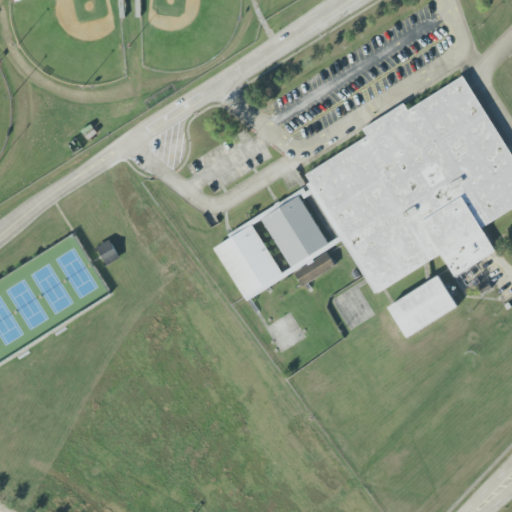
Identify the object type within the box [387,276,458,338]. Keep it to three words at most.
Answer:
building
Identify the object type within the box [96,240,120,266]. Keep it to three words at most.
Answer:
shed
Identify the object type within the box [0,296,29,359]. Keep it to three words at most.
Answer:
tennis court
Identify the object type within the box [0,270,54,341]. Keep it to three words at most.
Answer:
tennis court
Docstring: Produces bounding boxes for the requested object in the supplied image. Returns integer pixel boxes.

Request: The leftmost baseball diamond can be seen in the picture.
[56,0,114,40]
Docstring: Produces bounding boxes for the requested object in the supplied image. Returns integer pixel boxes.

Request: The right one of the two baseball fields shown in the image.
[148,0,200,30]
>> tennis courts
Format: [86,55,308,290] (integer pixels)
[18,254,78,326]
[43,236,109,310]
[0,296,29,359]
[0,270,54,341]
